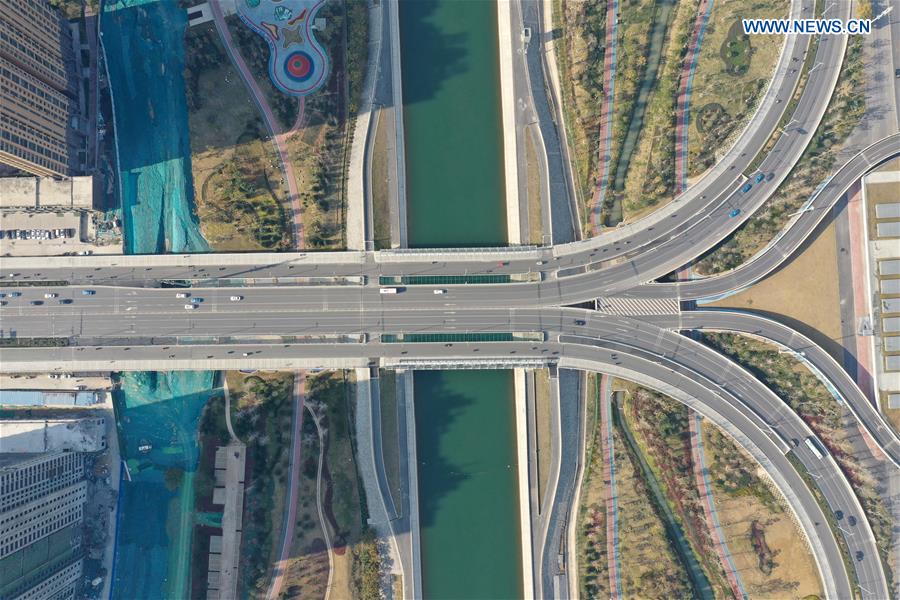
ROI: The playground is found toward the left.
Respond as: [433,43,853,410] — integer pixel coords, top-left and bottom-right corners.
[236,0,329,95]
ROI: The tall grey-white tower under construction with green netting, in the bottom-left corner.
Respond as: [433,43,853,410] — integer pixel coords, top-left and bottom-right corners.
[0,452,86,600]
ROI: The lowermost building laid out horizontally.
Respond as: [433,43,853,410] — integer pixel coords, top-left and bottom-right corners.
[0,417,116,452]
